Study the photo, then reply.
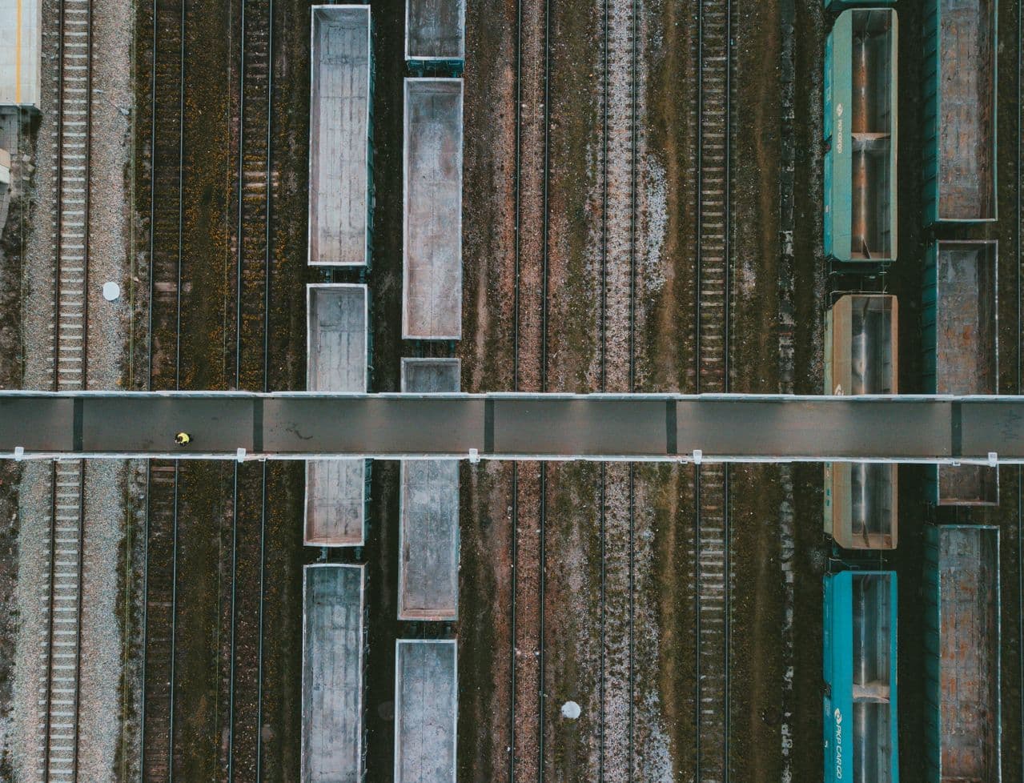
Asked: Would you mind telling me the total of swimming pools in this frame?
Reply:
0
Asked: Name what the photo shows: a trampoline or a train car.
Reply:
train car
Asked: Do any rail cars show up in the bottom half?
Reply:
Yes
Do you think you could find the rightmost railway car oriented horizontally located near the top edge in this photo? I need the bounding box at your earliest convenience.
[826,0,880,21]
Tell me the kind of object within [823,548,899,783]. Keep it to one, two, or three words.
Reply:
rail car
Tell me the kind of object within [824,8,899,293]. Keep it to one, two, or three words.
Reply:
rail car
